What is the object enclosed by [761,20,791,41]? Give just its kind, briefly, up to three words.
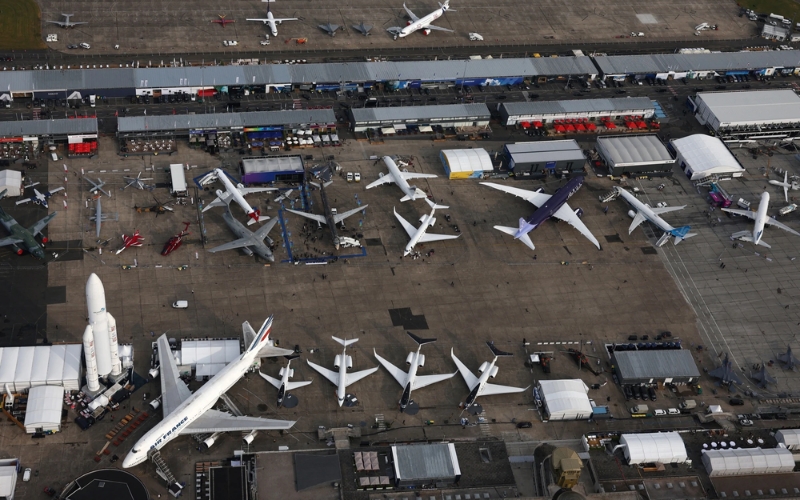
shed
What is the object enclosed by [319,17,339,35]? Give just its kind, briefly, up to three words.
airplane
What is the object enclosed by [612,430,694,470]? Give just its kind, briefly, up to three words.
tent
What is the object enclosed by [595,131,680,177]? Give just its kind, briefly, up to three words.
building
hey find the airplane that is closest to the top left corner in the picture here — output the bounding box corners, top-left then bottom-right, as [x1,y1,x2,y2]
[46,11,88,30]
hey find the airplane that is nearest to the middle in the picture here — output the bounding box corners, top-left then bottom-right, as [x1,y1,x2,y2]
[394,196,462,255]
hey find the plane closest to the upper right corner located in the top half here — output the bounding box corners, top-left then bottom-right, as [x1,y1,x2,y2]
[769,169,794,198]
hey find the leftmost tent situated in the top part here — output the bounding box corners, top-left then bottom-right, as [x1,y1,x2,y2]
[0,171,20,196]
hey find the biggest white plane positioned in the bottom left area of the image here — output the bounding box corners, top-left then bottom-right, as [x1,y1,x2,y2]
[122,323,295,469]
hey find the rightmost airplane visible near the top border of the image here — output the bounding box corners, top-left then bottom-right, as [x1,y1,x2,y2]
[396,0,455,39]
